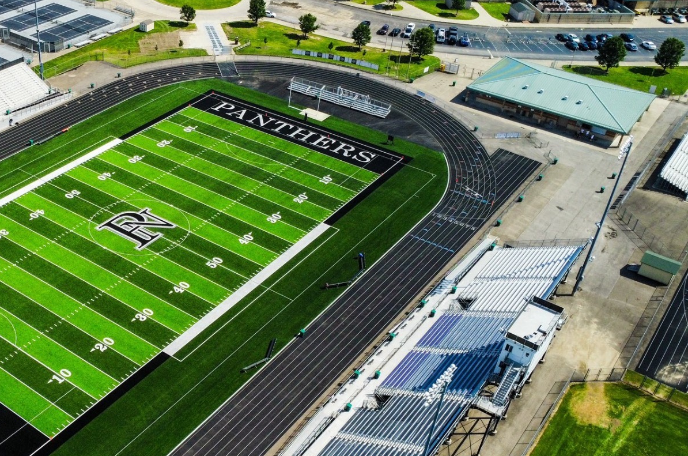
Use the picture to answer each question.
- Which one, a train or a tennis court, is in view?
tennis court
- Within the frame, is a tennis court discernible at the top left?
Yes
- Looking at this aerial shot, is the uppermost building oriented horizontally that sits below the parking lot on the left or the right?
right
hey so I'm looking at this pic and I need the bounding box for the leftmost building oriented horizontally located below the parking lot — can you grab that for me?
[467,56,659,145]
